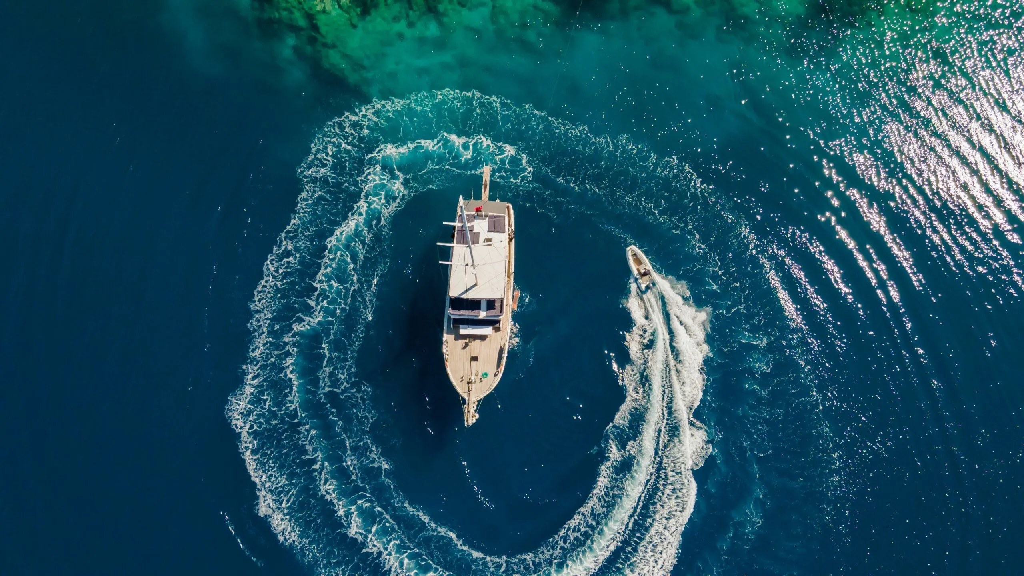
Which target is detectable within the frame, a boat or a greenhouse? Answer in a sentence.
The image shows a boat.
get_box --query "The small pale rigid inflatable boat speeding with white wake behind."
[625,246,659,293]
